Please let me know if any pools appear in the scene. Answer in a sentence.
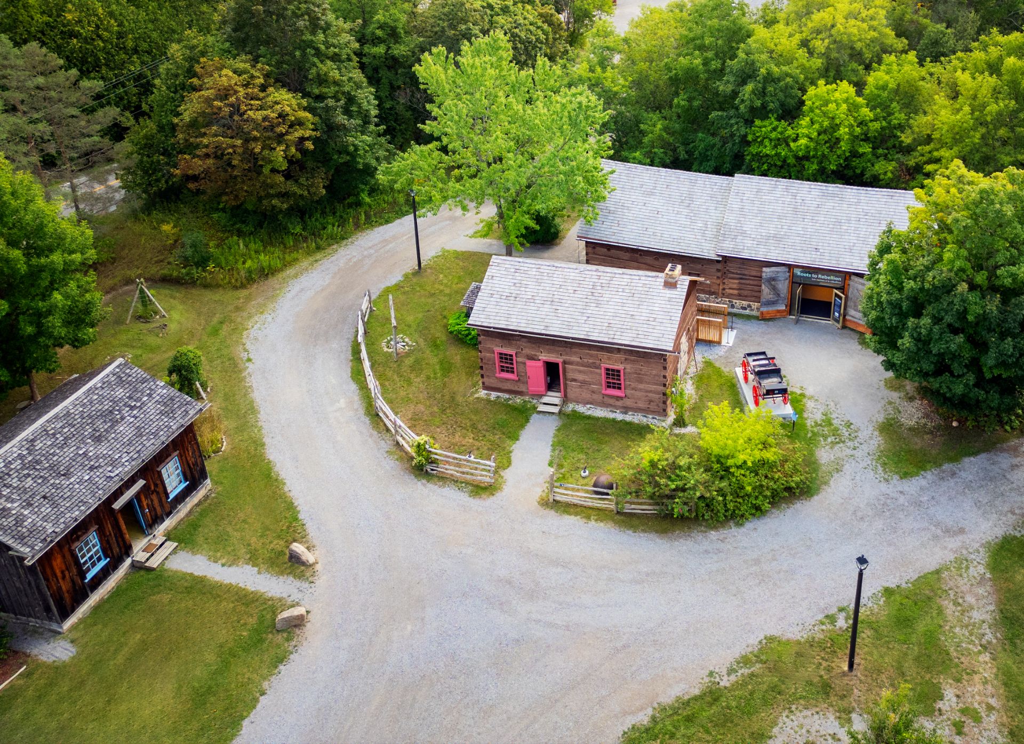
No, the frame has no pool in it.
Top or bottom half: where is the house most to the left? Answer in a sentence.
It is in the bottom half that the house most to the left appears.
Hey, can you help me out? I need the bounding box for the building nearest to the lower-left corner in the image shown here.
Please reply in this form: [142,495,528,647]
[0,356,215,633]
